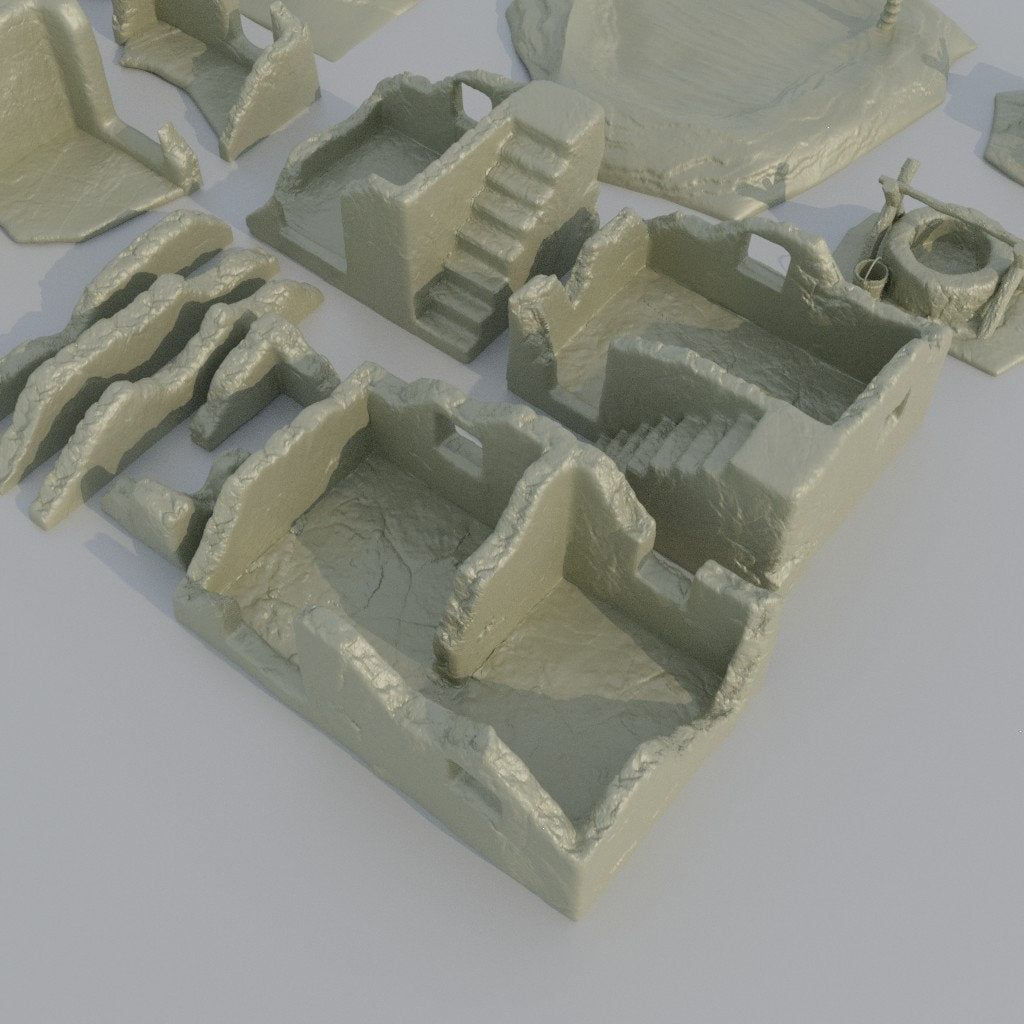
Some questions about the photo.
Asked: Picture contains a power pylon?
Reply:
No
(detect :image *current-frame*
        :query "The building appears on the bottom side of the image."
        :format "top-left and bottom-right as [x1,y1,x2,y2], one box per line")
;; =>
[179,362,784,918]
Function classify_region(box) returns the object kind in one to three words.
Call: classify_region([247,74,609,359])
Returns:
house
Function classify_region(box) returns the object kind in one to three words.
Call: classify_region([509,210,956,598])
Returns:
house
